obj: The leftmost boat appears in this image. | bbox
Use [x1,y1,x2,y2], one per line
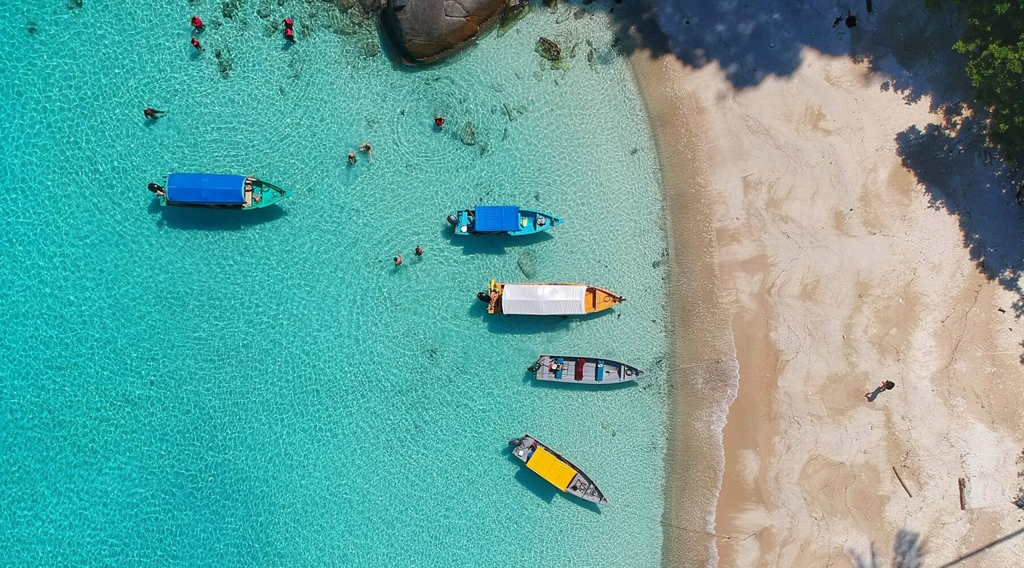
[148,172,292,208]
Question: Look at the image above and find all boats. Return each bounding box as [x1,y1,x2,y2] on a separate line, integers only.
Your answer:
[507,436,613,510]
[148,172,292,208]
[525,356,652,386]
[476,282,626,315]
[444,205,565,236]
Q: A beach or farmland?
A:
beach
